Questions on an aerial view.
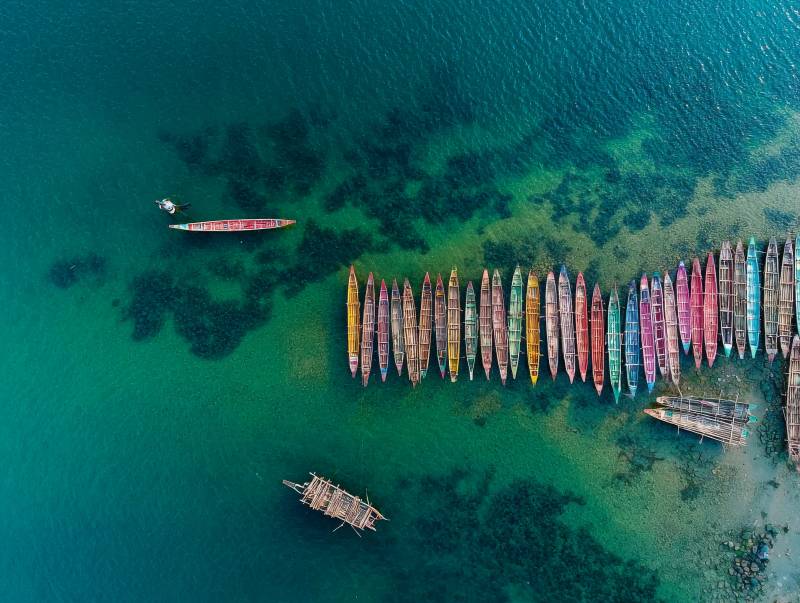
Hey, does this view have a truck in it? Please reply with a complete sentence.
No, there's no truck here.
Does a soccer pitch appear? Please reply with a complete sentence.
No, I find no soccer pitch anywhere in the image.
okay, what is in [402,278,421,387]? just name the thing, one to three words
boat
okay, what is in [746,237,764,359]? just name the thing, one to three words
boat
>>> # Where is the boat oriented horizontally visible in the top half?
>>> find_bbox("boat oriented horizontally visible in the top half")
[166,217,296,231]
